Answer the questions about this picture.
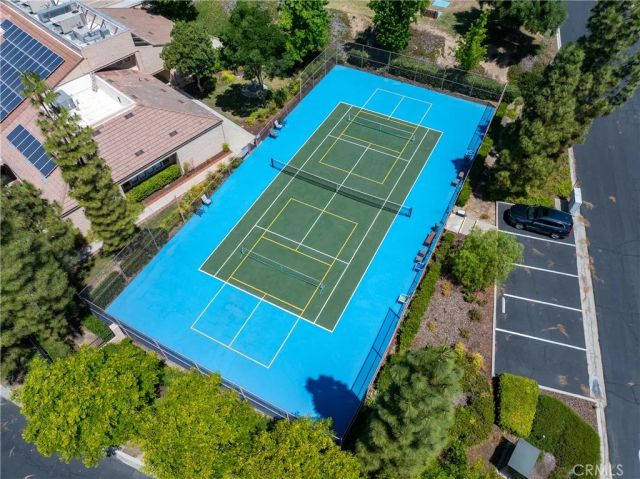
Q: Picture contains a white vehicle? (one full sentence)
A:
No, no white vehicle is visible in the view.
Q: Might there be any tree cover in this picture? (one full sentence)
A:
Yes, there's tree cover in this view.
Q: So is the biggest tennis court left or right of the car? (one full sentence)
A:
From the viewer's perspective, the biggest tennis court falls to the left of the car.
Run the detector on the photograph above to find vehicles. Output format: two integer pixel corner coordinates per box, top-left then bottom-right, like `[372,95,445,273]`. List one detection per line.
[508,203,577,239]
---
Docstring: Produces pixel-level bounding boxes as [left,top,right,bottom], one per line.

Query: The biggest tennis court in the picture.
[99,64,496,443]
